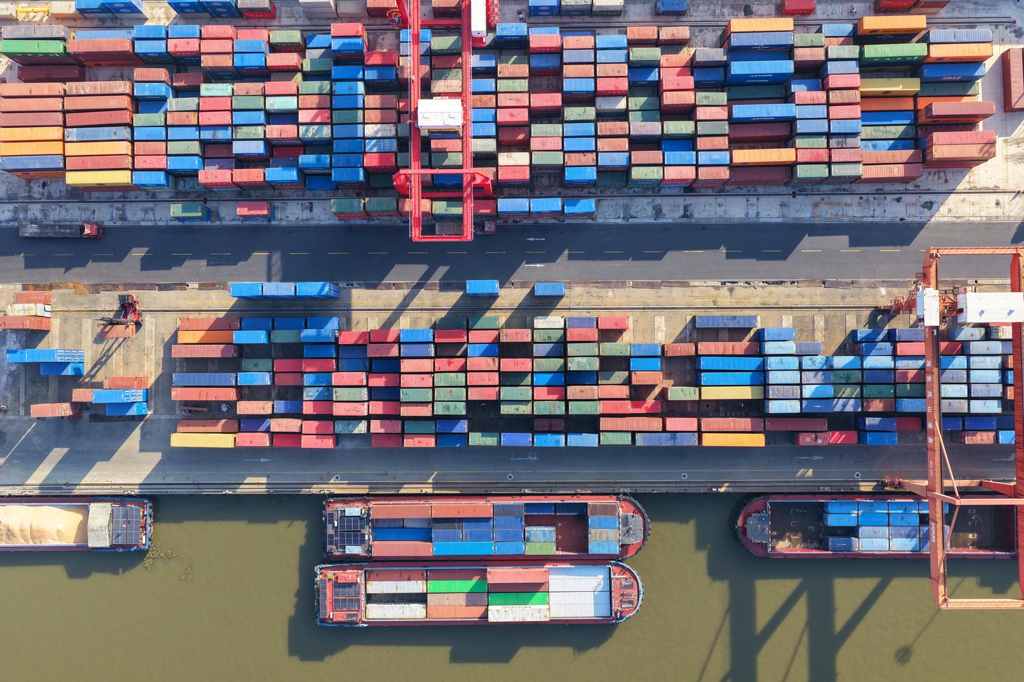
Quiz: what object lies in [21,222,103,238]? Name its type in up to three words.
vehicle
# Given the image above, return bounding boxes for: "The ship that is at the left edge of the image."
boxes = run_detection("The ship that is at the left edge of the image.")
[0,499,156,552]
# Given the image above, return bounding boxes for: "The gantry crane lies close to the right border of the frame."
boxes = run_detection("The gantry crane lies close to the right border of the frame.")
[875,245,1024,609]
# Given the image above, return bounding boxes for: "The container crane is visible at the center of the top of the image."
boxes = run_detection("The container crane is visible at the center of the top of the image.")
[388,0,499,242]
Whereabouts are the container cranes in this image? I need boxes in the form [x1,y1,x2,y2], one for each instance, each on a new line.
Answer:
[875,245,1024,609]
[388,0,499,242]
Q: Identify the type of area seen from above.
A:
port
